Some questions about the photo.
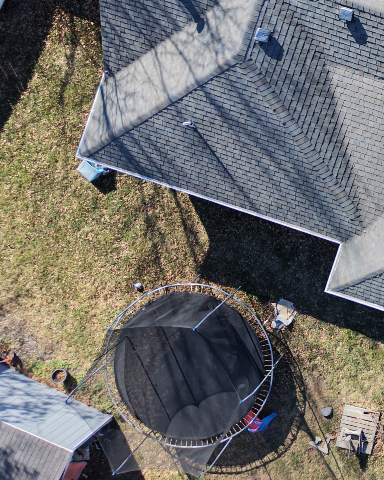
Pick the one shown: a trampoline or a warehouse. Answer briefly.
trampoline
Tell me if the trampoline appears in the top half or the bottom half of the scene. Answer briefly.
bottom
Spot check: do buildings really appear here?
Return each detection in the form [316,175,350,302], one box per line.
[0,361,101,480]
[76,0,384,311]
